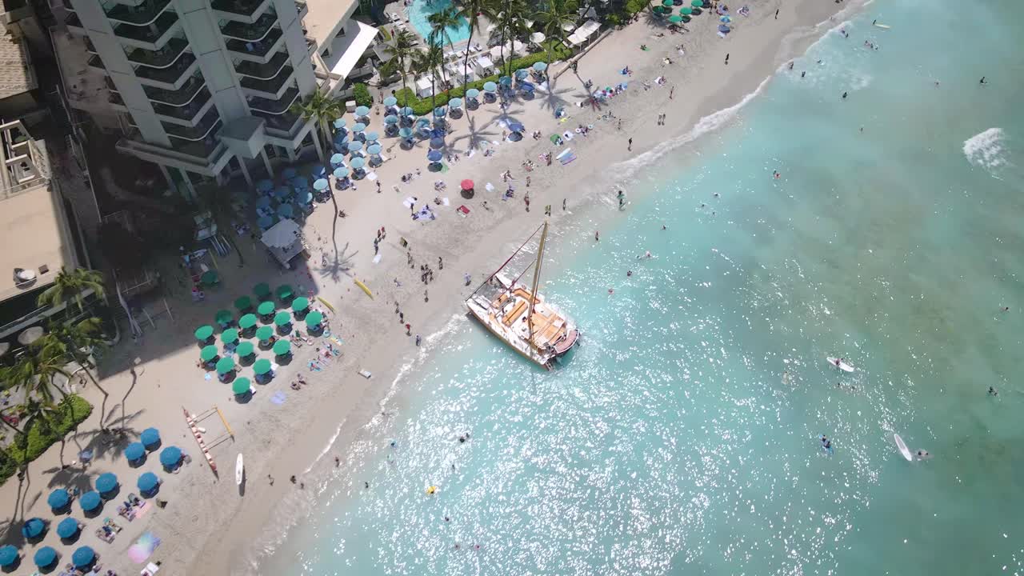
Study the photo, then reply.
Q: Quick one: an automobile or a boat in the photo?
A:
boat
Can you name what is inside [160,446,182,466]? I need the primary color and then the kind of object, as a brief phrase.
blue umbrella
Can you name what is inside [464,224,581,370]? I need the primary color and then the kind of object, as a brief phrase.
white boat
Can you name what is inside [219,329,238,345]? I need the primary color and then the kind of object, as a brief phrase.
green umbrella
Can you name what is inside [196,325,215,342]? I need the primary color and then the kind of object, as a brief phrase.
green umbrella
